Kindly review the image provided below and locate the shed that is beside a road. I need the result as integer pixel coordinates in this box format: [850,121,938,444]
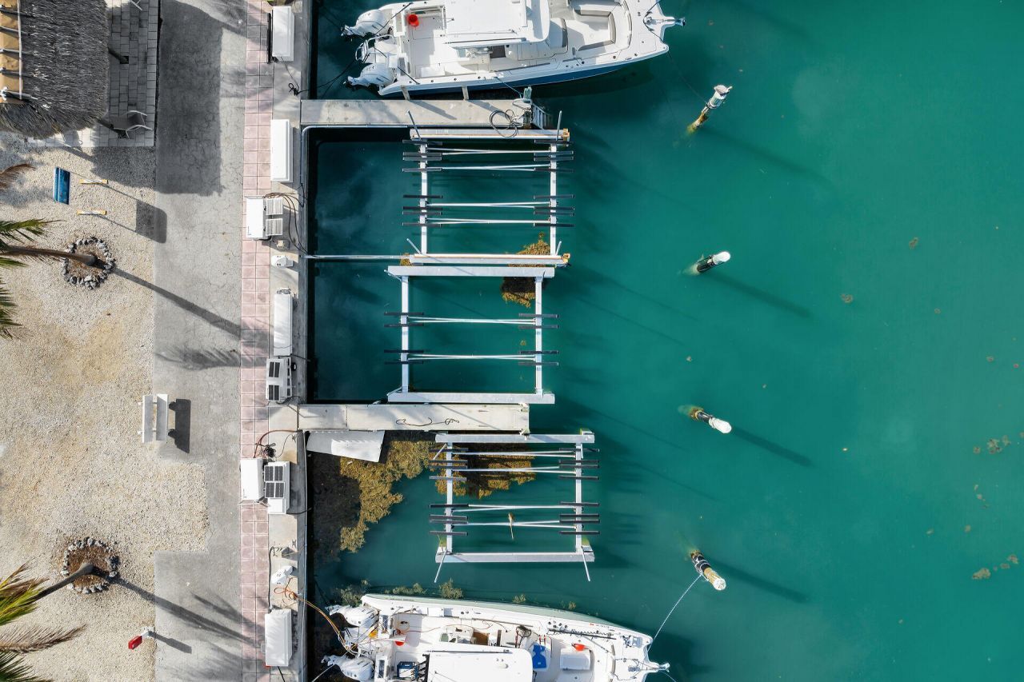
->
[0,0,130,149]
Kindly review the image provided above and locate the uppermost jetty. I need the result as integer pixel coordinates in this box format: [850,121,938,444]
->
[300,99,527,137]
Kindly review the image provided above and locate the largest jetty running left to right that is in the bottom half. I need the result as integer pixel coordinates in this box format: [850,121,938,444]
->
[298,402,528,432]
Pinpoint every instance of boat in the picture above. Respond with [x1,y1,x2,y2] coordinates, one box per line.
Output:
[334,0,691,99]
[317,587,675,682]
